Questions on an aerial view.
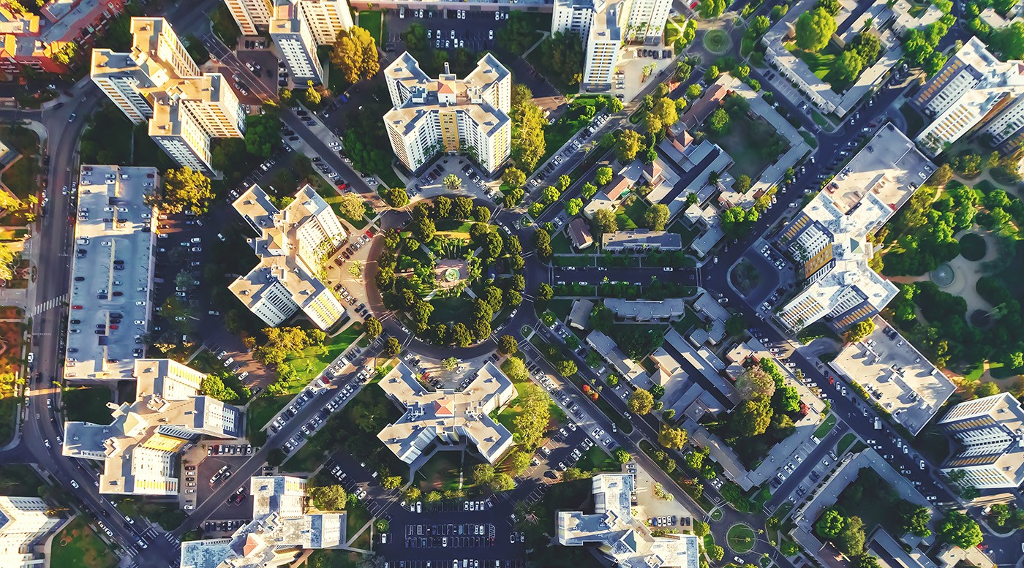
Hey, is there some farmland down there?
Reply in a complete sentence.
No, there is no farmland in the image.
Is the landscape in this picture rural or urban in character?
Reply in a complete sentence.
From above, the setting appears urban.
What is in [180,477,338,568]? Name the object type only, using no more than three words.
building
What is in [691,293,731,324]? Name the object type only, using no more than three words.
building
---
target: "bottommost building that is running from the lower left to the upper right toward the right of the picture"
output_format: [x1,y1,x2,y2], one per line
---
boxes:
[790,449,872,530]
